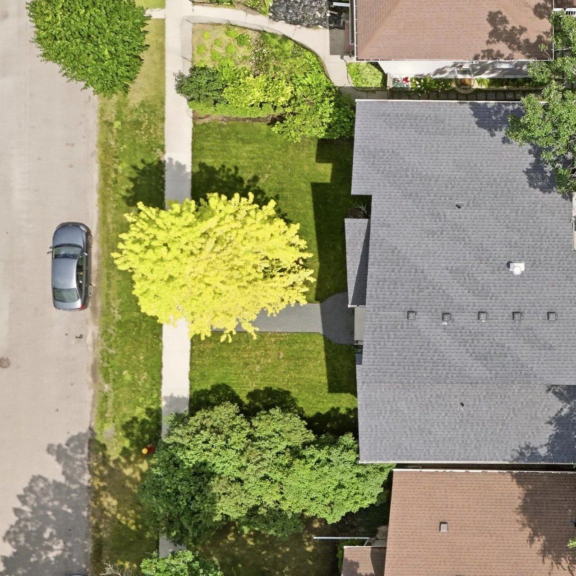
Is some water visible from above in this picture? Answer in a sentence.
No, there is no water in the image.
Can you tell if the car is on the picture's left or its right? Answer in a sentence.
The car sits on the left side.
